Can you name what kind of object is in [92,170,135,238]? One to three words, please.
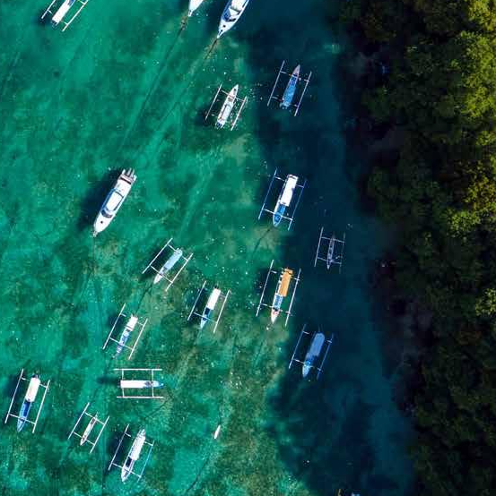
boat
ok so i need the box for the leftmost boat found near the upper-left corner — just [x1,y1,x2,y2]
[42,0,88,31]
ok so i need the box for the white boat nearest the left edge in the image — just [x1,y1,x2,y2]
[5,371,50,433]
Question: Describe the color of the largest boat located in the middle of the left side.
white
